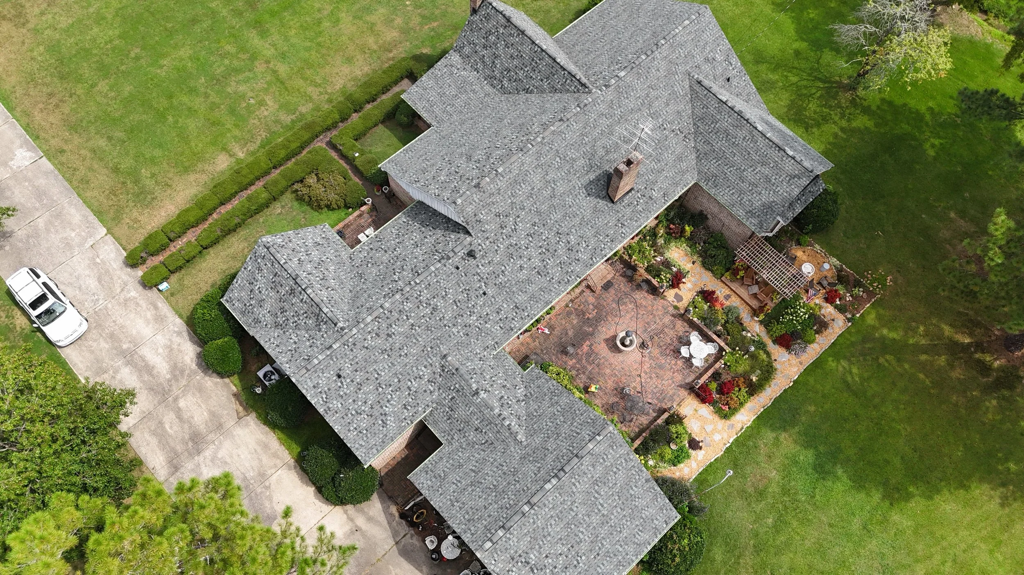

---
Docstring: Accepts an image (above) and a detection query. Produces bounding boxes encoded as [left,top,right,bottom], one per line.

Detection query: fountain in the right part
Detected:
[617,330,637,351]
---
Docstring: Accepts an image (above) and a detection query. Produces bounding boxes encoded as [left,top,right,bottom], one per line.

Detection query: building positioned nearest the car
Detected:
[220,0,835,575]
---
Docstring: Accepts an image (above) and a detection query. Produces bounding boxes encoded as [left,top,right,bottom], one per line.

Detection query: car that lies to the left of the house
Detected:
[7,263,90,348]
